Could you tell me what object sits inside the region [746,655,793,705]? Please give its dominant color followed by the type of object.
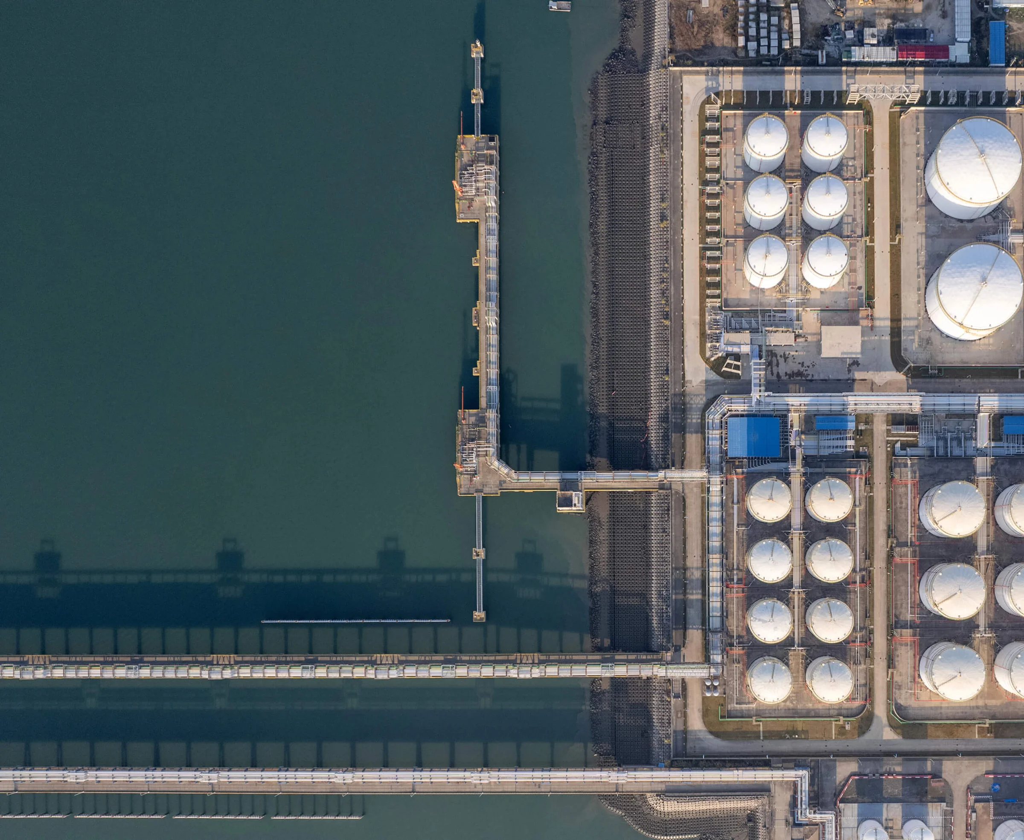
white storage tank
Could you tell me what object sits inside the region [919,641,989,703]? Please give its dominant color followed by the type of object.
white storage tank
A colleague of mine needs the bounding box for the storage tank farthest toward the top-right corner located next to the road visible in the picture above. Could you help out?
[924,114,1024,220]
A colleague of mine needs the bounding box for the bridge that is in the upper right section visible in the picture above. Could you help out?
[846,85,919,105]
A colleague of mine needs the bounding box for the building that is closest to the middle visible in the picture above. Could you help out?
[557,491,586,513]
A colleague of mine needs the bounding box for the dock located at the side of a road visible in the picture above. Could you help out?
[455,134,667,496]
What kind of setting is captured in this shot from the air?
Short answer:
industrial area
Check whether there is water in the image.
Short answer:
Yes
